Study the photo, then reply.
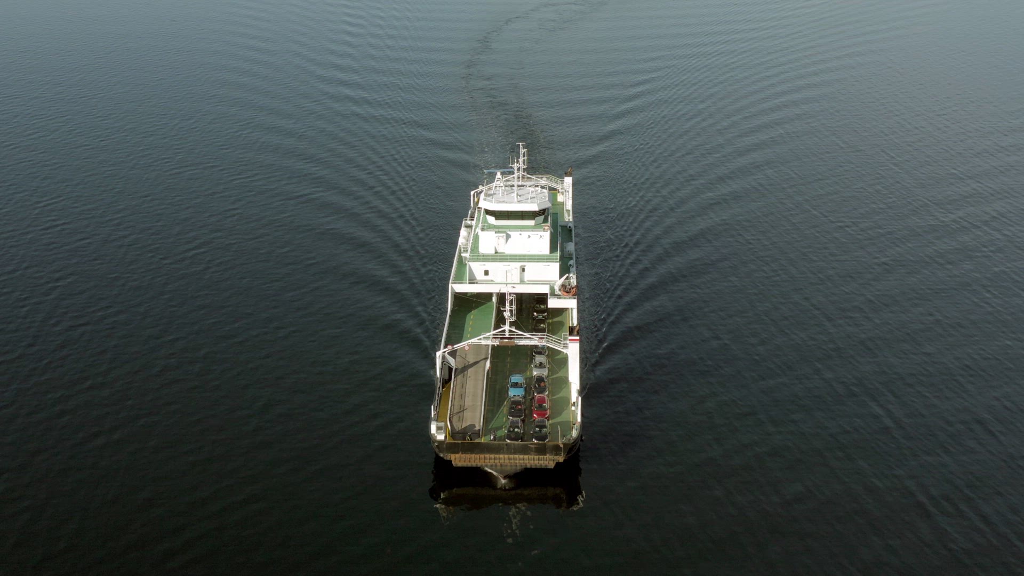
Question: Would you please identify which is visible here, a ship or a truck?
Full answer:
The one in the frame is a ship.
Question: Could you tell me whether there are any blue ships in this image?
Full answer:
No, no blue ship is visible in the view.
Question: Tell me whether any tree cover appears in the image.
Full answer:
No, tree cover can't be seen anywhere here.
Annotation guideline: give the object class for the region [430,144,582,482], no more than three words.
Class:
ship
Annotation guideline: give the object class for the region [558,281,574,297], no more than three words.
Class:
boat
